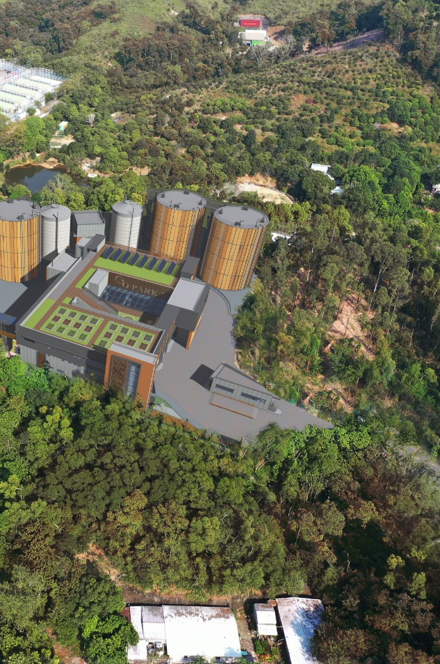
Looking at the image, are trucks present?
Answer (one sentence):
No, I can't see a single truck in this photo.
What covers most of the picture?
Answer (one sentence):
What you mostly see from above here is trees.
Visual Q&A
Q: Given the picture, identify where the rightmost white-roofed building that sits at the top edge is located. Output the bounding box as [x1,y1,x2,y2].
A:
[240,29,266,48]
